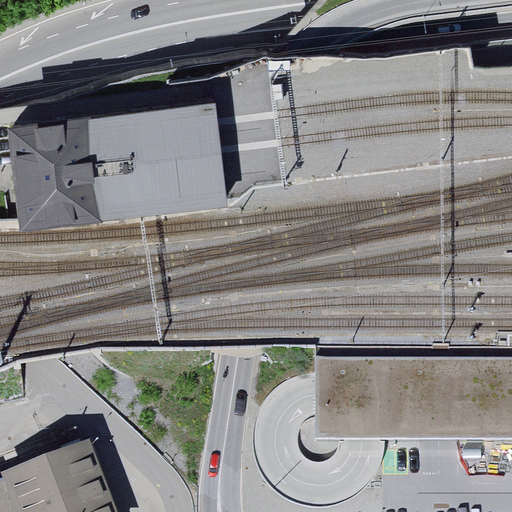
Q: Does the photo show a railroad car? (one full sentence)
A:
No, I find no railroad car anywhere in the image.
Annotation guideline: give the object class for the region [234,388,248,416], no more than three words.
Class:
vehicle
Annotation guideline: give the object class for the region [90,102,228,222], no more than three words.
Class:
building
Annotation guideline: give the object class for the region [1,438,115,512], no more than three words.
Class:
building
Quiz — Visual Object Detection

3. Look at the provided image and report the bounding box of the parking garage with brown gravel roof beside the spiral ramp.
[316,356,512,442]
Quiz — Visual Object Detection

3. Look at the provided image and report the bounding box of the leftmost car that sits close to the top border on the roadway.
[130,5,152,20]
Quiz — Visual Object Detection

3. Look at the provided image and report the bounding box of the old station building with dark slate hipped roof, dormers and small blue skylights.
[7,118,102,231]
